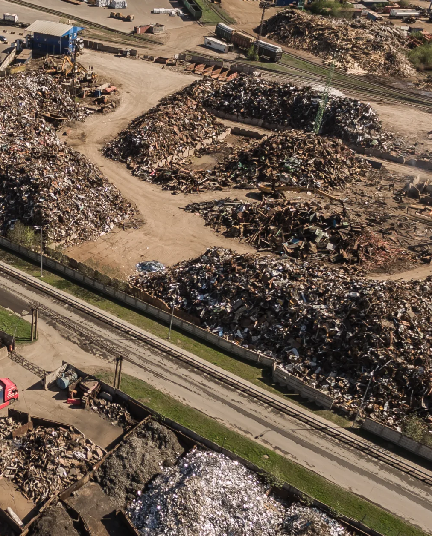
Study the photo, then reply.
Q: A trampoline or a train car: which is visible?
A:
train car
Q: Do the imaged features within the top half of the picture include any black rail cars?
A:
Yes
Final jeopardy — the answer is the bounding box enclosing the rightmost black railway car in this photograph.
[257,46,283,63]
